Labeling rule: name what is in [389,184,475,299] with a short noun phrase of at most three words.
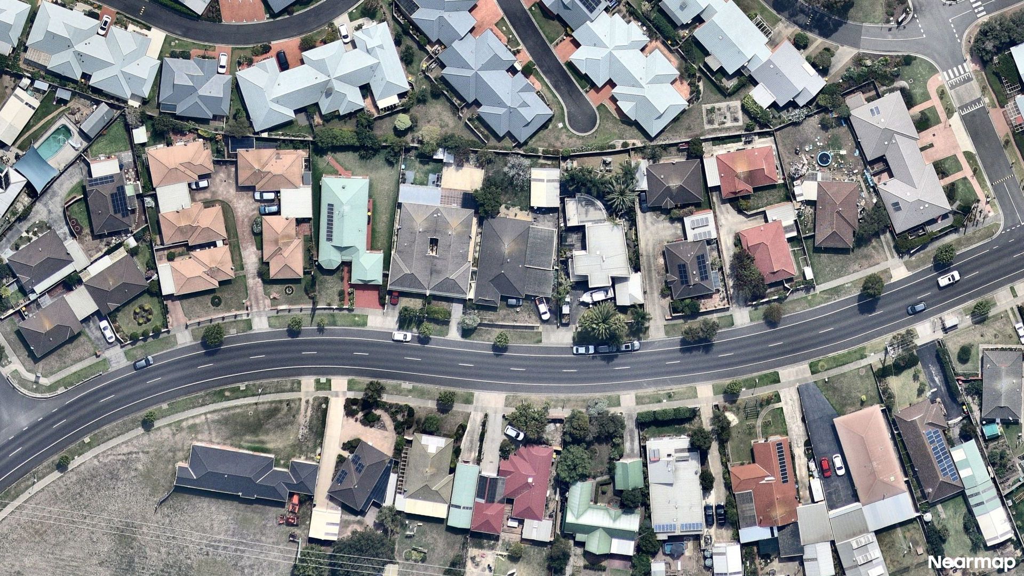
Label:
house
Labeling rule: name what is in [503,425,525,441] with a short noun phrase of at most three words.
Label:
car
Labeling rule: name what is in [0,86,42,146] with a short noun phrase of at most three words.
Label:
shed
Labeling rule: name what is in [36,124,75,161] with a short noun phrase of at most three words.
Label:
swimming pool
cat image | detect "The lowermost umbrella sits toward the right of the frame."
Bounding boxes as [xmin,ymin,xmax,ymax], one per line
[671,544,684,557]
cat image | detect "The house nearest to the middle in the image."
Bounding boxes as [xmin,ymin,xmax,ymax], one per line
[473,218,556,307]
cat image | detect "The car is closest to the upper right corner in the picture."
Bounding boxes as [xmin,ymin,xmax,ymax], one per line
[937,270,961,287]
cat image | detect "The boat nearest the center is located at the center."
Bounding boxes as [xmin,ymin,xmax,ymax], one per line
[580,288,613,301]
